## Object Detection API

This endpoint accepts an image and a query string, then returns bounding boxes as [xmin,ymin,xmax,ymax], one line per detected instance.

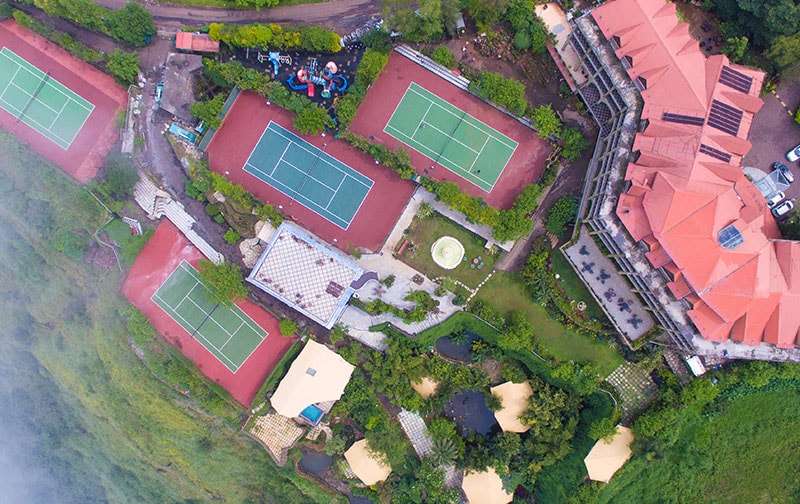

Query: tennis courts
[346,46,557,211]
[0,18,127,183]
[123,221,305,407]
[197,87,417,252]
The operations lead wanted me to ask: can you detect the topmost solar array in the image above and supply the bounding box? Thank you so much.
[719,66,752,93]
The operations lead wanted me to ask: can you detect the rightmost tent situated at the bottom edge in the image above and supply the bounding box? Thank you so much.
[584,424,633,482]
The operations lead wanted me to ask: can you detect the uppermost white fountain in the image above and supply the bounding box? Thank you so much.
[430,235,465,270]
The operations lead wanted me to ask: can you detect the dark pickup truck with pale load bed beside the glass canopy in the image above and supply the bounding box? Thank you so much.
[771,159,799,183]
